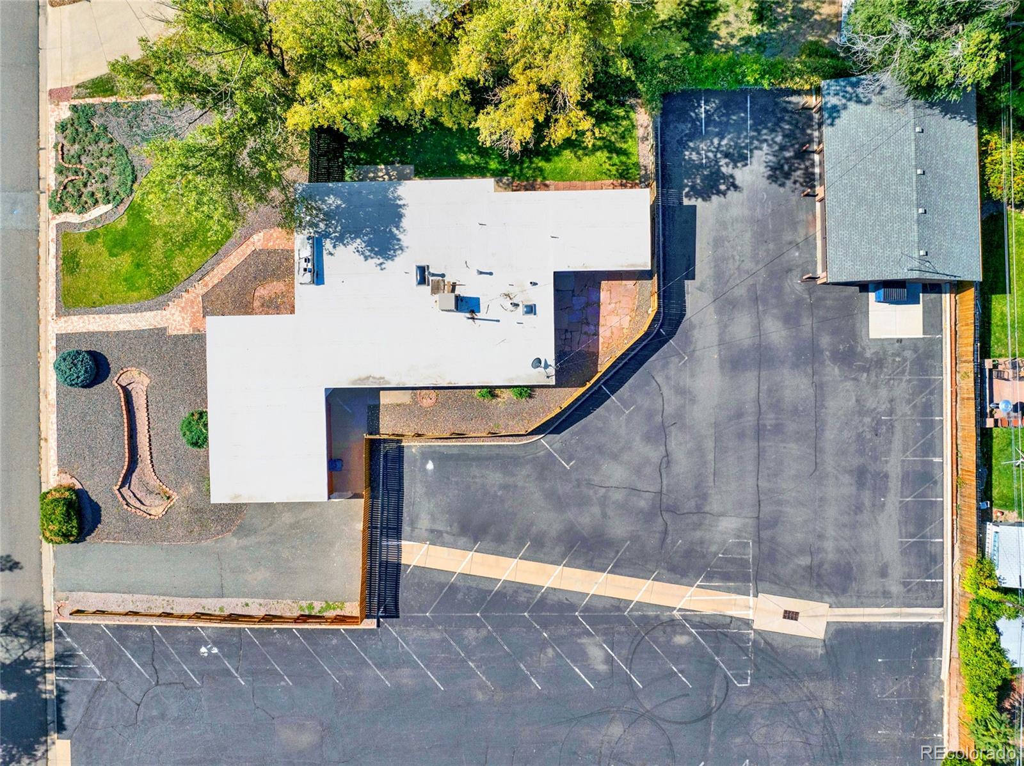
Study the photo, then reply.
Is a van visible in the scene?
No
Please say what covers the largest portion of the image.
paved ground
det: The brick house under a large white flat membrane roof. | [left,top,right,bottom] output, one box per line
[206,178,651,503]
